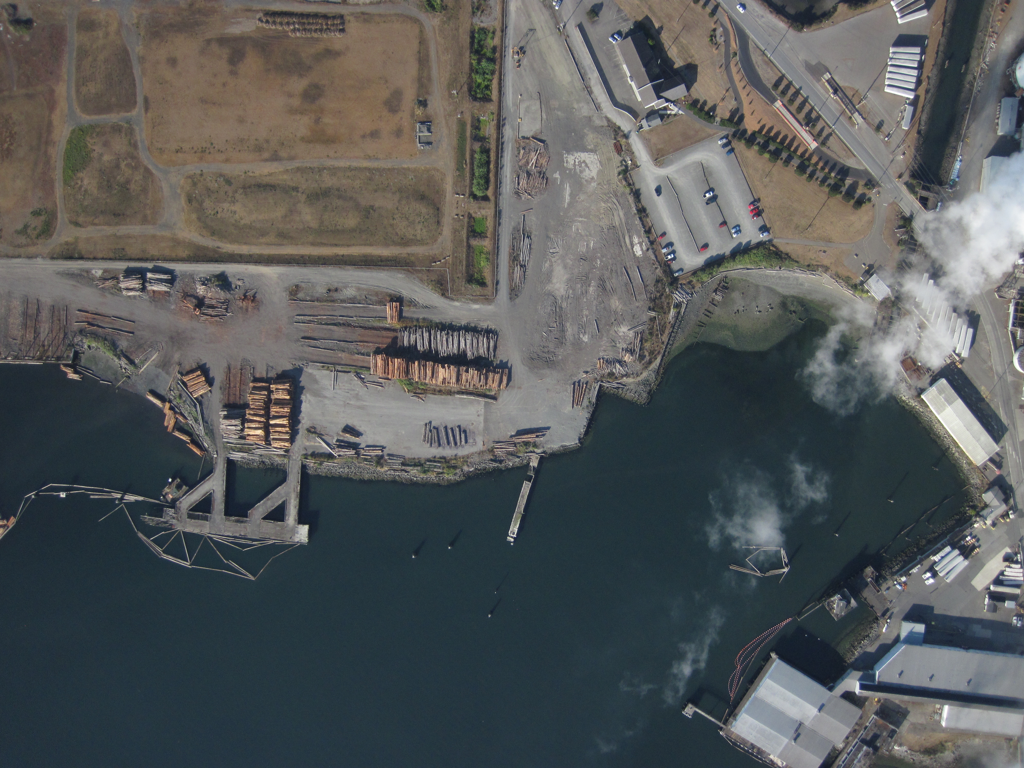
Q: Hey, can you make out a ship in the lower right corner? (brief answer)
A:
No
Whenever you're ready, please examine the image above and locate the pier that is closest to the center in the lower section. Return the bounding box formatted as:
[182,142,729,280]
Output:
[507,456,540,541]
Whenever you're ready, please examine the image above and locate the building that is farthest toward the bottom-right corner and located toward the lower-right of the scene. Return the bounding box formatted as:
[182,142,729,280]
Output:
[941,703,1024,737]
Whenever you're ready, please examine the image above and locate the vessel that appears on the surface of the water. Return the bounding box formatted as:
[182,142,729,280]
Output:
[163,478,188,502]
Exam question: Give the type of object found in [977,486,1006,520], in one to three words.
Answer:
building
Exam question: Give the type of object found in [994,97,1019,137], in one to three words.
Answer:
shed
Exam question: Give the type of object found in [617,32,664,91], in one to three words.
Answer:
building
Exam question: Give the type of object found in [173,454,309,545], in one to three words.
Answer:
pier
